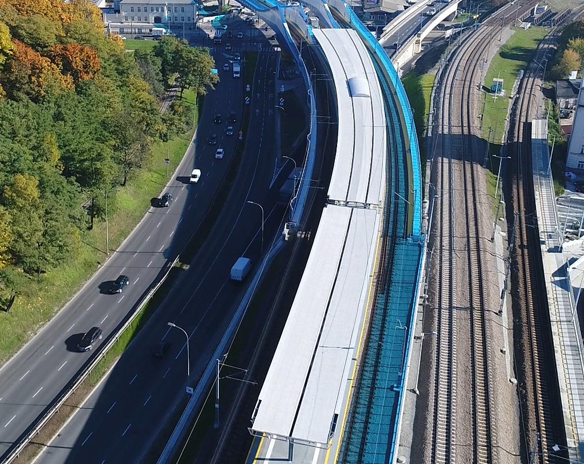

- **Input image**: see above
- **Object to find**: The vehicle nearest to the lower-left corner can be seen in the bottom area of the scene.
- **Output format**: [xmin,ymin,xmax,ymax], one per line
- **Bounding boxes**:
[76,324,102,349]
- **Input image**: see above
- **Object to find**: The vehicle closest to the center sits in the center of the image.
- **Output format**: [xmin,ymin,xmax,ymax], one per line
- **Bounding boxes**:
[228,259,248,282]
